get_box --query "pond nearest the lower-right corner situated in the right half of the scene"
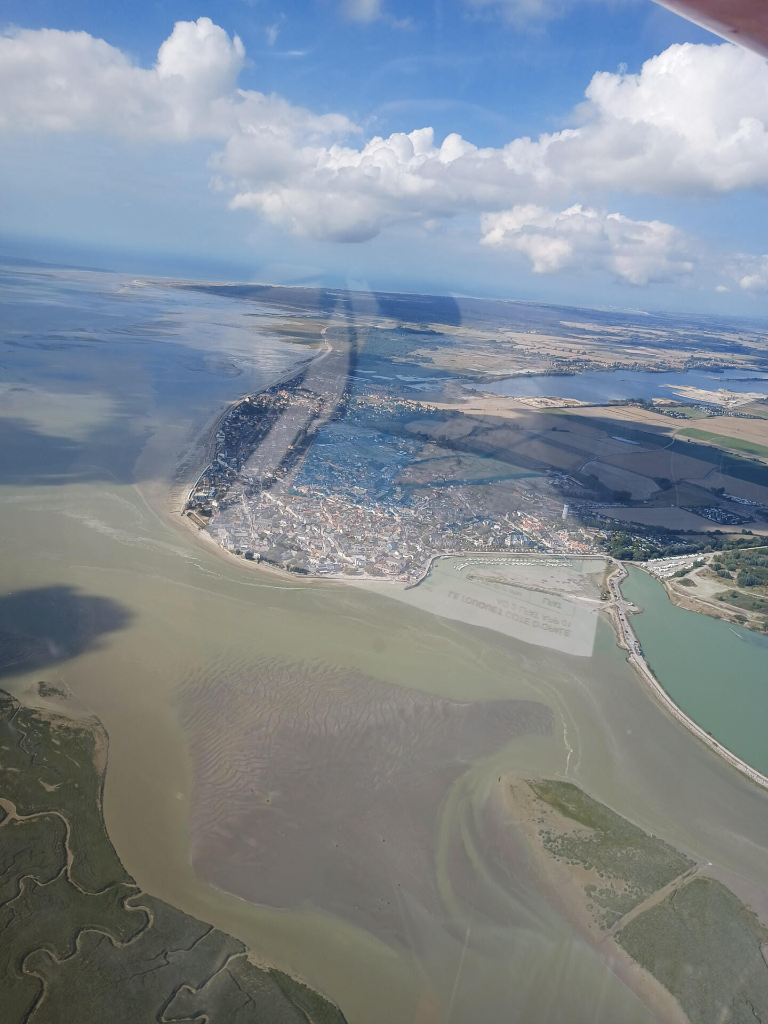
[620,566,768,777]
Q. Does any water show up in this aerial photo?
Yes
